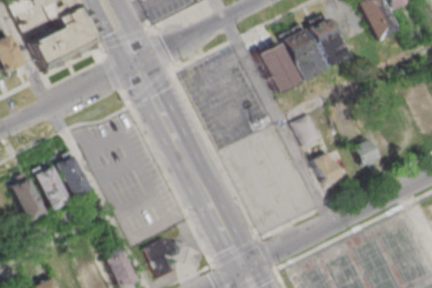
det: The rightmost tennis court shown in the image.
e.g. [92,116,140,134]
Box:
[384,226,427,282]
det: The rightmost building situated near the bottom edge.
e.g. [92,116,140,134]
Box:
[142,239,179,278]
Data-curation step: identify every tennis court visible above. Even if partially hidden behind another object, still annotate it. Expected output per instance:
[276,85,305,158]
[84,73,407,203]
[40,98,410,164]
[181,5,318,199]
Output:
[356,240,400,288]
[327,254,365,288]
[384,226,427,282]
[299,267,329,288]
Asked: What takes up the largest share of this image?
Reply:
paved ground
